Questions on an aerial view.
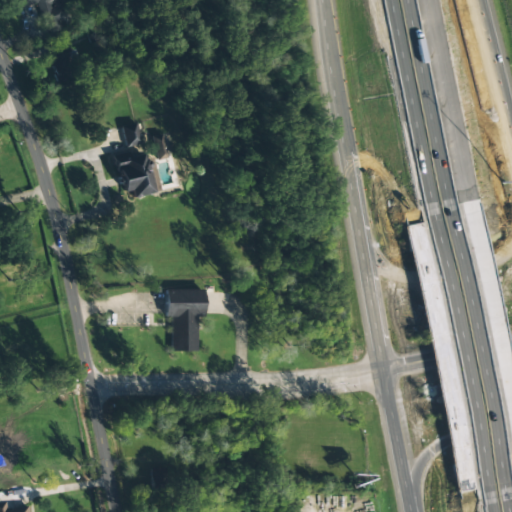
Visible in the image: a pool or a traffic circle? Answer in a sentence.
It is a pool that can be seen here.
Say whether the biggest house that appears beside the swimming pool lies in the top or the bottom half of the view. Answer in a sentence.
It is in the top half that the biggest house that appears beside the swimming pool appears.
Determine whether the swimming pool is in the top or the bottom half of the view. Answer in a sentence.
Seen from above, the swimming pool lies in the top half of the view.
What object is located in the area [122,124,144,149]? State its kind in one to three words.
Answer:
building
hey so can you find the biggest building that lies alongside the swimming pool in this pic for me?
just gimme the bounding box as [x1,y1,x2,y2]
[115,153,157,194]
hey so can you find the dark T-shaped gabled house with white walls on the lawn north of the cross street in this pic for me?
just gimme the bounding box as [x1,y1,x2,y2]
[168,290,209,350]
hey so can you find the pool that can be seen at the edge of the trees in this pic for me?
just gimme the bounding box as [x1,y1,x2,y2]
[154,152,182,192]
